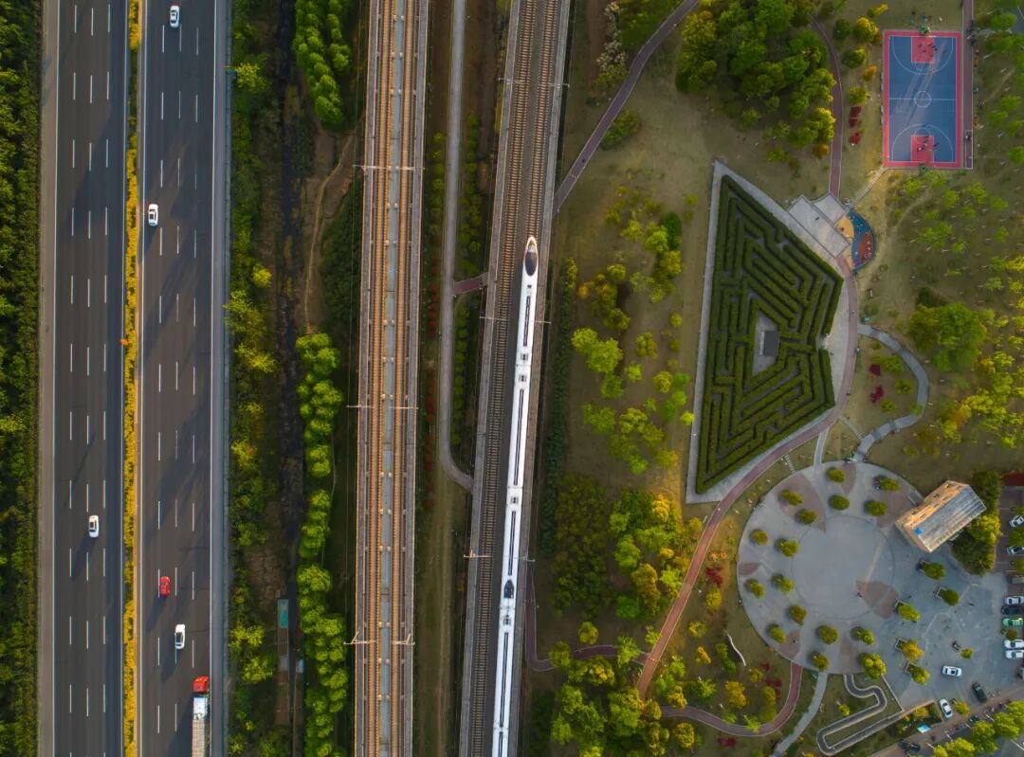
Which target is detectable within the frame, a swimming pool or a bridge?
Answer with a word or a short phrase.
bridge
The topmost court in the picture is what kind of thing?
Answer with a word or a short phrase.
basketball court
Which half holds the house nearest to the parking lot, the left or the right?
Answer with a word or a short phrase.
right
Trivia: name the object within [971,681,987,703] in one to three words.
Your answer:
car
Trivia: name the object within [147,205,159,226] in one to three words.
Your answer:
vehicle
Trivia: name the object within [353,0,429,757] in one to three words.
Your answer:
bridge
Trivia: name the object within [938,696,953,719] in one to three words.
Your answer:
car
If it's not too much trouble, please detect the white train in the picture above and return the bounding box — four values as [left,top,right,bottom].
[492,236,537,757]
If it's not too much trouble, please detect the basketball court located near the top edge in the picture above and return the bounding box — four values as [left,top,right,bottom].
[883,29,962,169]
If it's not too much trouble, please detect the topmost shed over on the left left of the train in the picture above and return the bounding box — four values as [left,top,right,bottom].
[278,597,290,628]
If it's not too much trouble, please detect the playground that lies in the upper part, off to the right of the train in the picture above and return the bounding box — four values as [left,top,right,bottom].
[835,210,878,272]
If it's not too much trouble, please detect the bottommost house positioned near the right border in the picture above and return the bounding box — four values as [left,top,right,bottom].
[896,481,990,555]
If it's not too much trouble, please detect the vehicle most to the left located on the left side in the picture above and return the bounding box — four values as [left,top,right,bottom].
[88,515,100,537]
